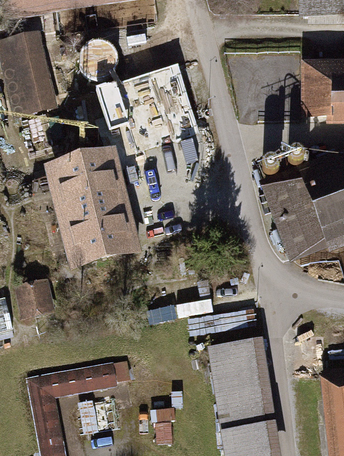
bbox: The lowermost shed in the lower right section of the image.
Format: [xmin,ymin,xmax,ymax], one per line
[220,416,285,456]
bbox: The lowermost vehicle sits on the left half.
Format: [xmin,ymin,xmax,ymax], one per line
[90,436,114,449]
